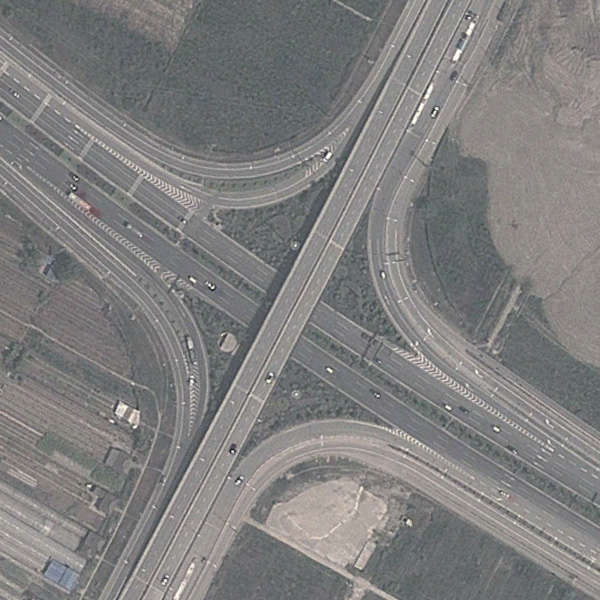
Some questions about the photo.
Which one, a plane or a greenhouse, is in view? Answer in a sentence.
The one in the frame is a greenhouse.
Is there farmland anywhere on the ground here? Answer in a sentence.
Yes, there is farmland in the image.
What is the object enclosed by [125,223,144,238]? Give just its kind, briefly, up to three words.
vehicle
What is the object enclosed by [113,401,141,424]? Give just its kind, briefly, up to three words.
house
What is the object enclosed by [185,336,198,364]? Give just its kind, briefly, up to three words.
vehicle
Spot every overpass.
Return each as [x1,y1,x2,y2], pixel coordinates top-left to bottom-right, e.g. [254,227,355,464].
[120,0,473,600]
